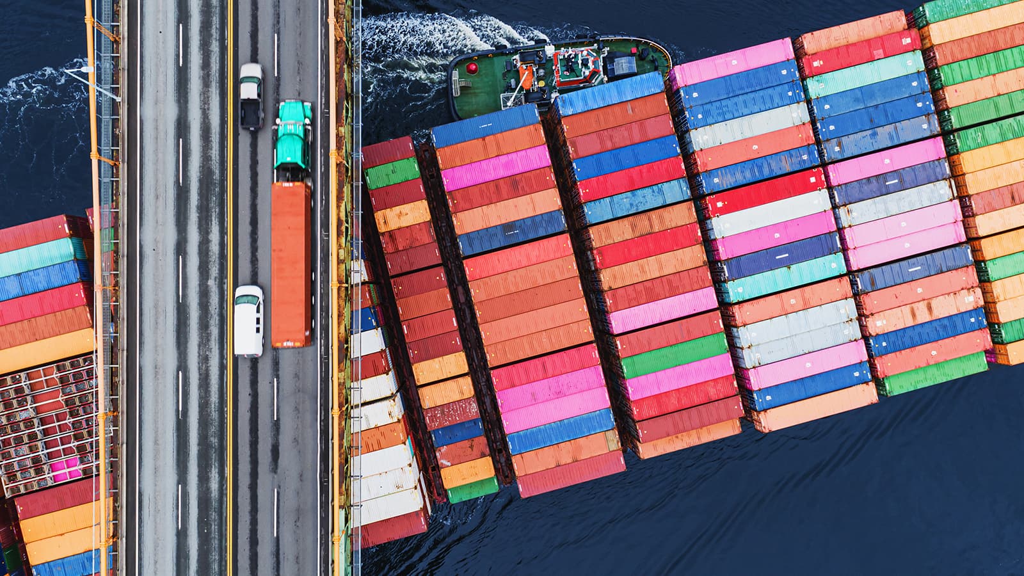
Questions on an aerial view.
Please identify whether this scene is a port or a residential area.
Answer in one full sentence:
What you see here is a port.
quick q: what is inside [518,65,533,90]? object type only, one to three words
boat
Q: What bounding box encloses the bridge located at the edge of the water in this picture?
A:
[85,0,364,576]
